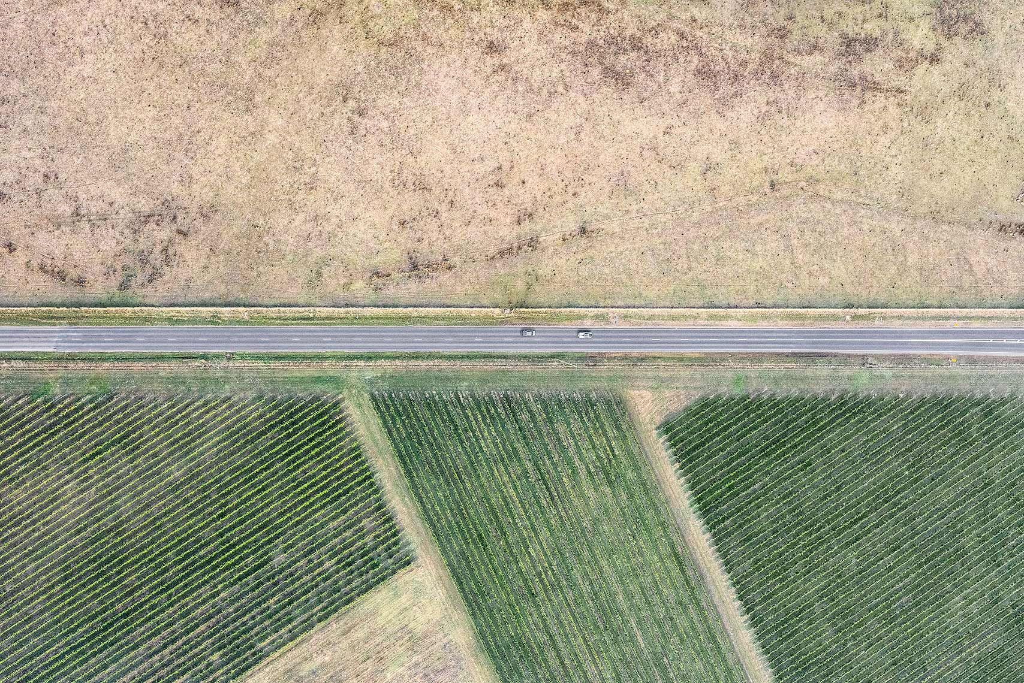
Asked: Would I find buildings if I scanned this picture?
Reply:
No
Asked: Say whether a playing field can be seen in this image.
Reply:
No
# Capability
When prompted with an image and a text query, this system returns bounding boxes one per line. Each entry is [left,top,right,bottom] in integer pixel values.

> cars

[578,332,592,338]
[521,330,536,336]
